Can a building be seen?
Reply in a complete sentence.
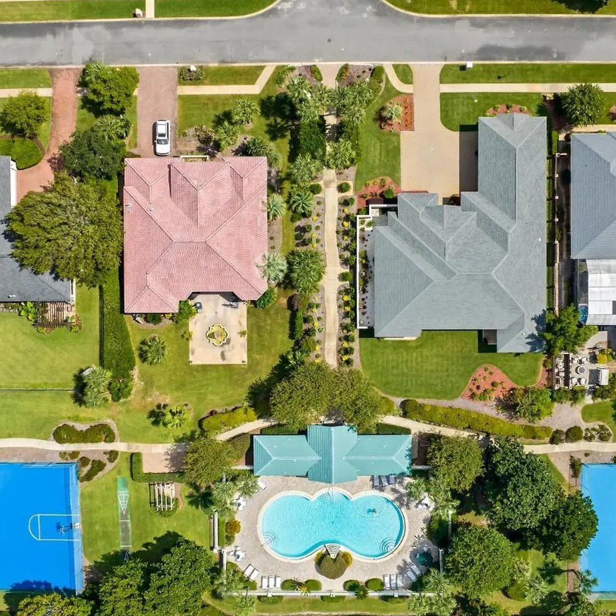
Yes, there's a building down there.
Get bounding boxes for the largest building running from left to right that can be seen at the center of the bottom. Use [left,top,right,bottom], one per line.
[253,425,412,483]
